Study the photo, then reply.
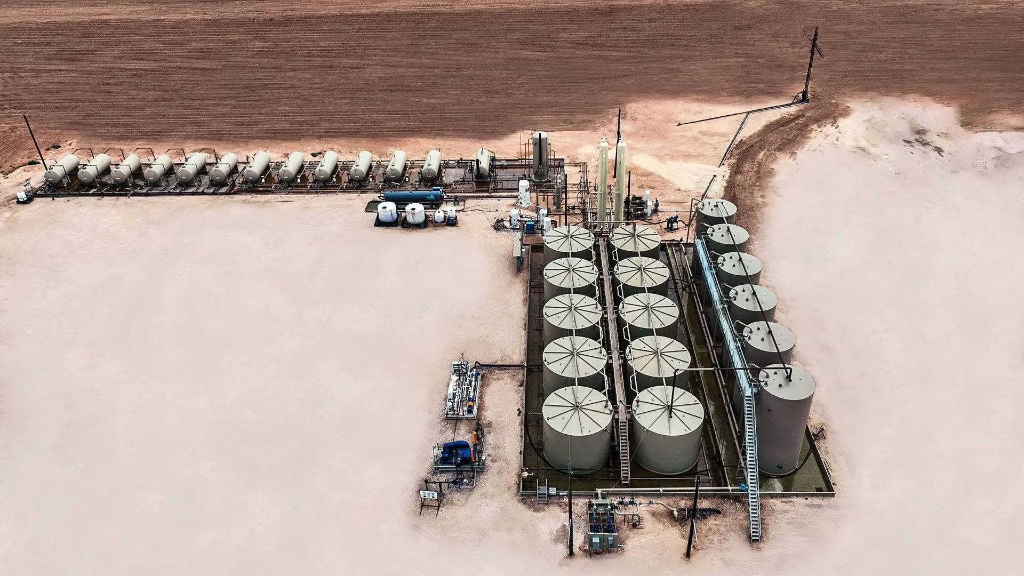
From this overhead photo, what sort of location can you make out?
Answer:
industrial area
